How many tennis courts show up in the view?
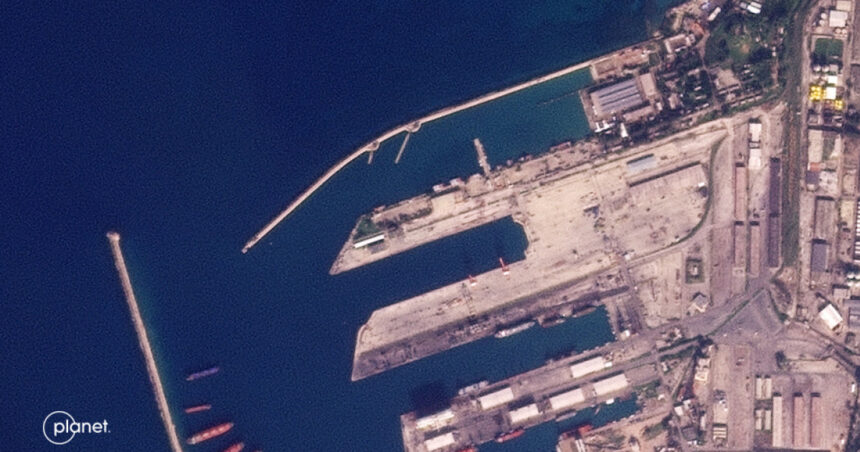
0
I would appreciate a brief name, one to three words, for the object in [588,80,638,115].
building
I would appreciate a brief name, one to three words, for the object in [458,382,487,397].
ship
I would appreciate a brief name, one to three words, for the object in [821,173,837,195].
building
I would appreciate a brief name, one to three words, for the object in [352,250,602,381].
pier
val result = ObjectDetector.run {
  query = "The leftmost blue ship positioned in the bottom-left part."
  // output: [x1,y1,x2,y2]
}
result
[186,368,219,381]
